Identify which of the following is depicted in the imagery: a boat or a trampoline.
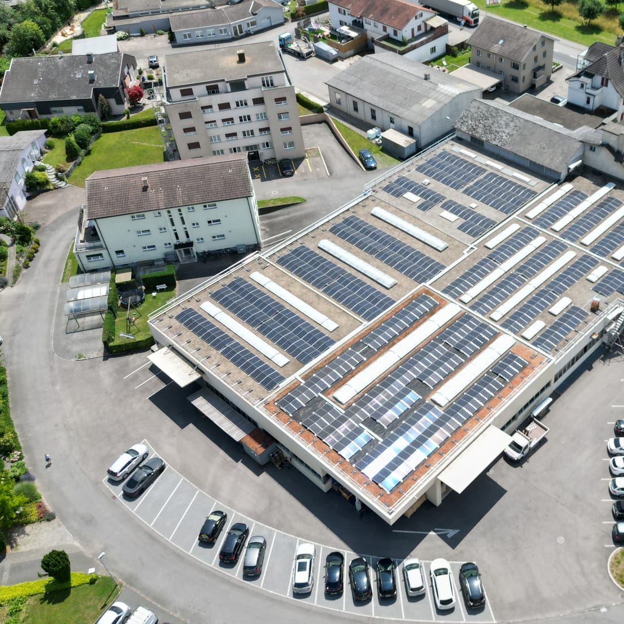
trampoline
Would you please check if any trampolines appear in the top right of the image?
No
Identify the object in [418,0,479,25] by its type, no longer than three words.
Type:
truck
